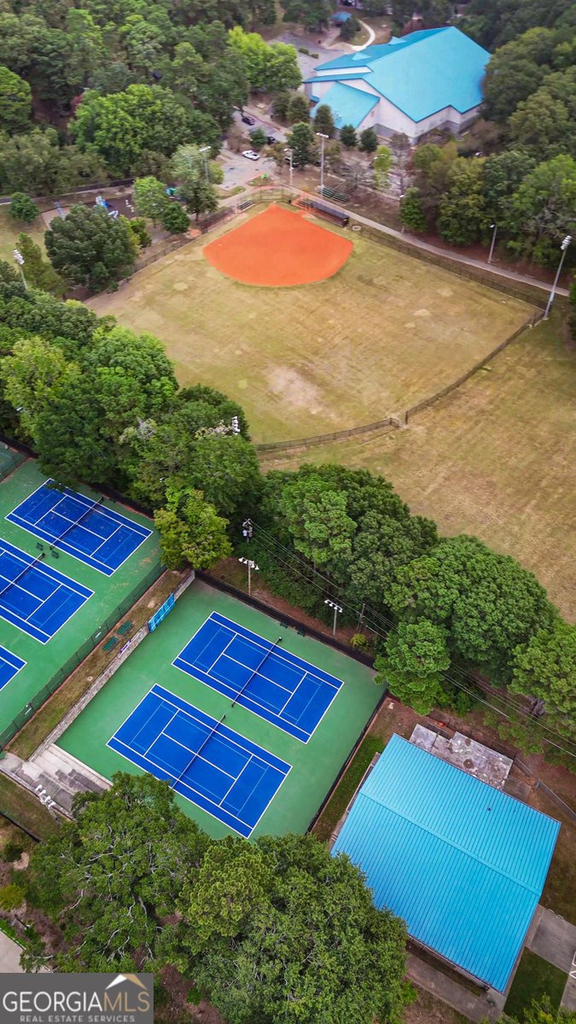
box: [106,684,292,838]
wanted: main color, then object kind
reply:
blue tennis court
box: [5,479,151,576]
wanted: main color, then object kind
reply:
blue tennis court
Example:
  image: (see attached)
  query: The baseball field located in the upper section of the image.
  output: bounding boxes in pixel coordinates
[94,194,543,449]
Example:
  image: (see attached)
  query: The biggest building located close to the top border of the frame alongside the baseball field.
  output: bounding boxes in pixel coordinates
[305,28,513,140]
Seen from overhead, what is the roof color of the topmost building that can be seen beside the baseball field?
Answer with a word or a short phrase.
blue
